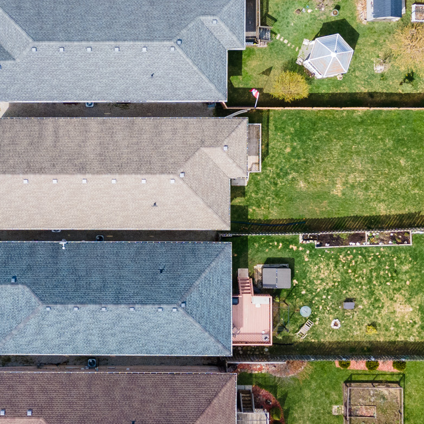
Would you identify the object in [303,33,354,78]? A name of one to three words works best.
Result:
gazebo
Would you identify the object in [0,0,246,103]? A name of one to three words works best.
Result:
house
